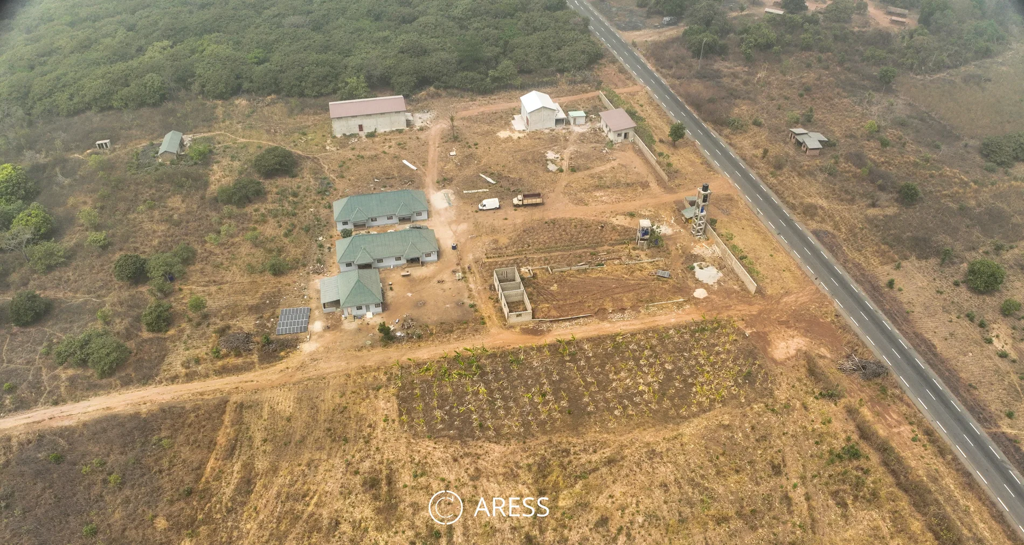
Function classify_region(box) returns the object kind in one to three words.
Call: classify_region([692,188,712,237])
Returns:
water tower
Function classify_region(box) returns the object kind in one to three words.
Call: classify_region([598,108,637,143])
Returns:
building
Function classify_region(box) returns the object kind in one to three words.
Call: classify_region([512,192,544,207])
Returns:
vehicle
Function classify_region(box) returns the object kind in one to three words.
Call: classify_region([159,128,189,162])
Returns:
barn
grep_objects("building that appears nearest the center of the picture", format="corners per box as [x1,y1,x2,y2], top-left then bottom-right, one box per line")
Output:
[495,265,531,323]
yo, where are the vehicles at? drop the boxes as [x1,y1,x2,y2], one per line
[479,197,499,210]
[512,192,544,207]
[409,221,426,230]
